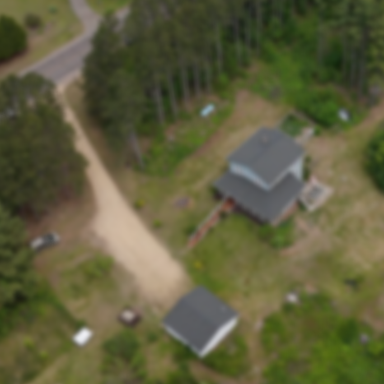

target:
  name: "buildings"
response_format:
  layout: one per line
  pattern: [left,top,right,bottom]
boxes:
[162,287,239,359]
[212,126,307,230]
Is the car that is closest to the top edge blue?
No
